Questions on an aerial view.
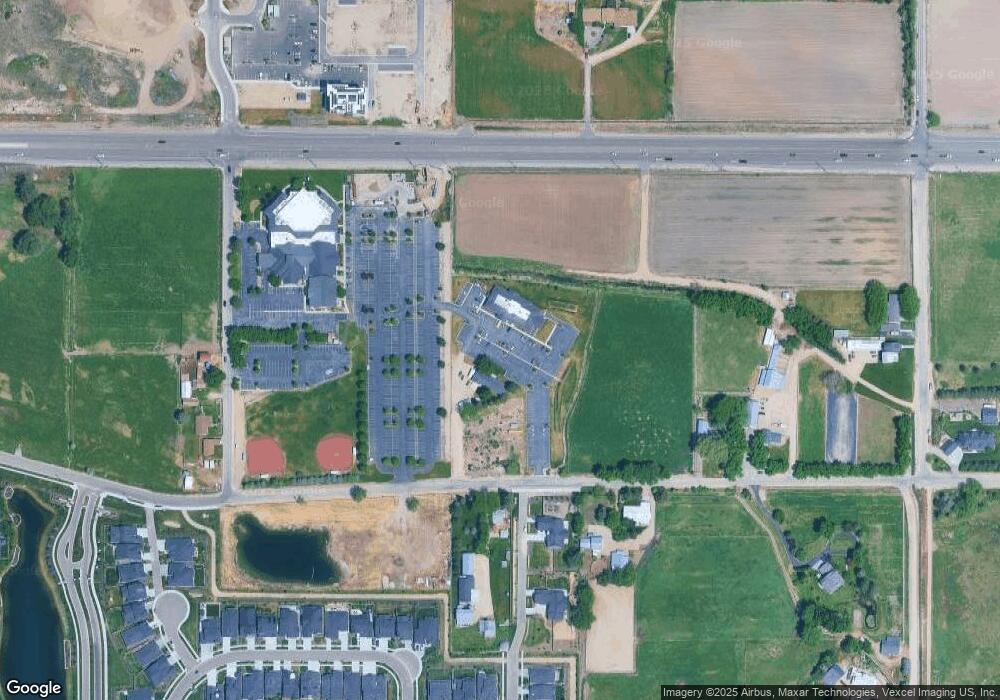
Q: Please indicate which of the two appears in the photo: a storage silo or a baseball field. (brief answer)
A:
baseball field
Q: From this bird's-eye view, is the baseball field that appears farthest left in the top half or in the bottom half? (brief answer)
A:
bottom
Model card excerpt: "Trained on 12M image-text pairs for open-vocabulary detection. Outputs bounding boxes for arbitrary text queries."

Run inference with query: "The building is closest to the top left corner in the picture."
[326,83,364,114]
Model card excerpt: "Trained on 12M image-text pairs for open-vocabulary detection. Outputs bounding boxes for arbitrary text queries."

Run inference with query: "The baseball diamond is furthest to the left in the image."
[245,435,286,477]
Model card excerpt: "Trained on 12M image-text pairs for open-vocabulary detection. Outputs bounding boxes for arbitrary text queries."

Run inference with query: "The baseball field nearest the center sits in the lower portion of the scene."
[315,433,354,474]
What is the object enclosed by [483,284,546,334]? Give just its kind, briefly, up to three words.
building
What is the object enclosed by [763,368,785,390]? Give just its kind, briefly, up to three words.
barn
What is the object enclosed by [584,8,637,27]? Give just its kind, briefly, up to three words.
house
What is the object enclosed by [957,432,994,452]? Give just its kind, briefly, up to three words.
house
